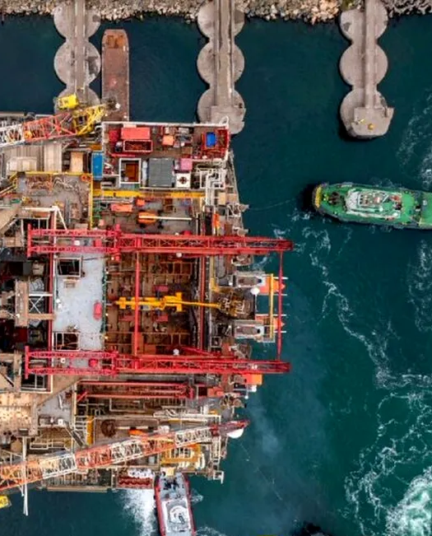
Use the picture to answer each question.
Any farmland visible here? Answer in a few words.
No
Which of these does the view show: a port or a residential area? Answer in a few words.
port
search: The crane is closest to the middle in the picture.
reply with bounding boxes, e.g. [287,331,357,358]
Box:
[136,210,192,229]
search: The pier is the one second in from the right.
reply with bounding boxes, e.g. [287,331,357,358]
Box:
[192,0,245,136]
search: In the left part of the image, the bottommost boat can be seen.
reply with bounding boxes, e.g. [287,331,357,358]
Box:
[149,476,196,536]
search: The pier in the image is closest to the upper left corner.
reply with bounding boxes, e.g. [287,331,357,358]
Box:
[52,0,101,123]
